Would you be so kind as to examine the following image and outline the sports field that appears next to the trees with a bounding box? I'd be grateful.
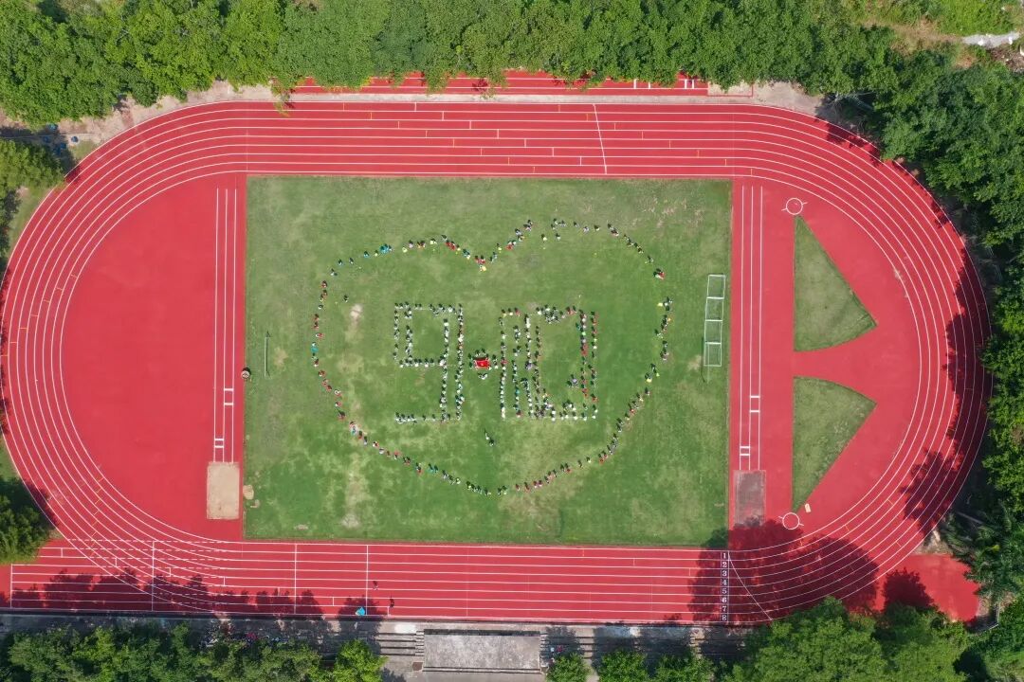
[243,175,732,548]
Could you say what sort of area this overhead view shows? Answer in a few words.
sports ground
